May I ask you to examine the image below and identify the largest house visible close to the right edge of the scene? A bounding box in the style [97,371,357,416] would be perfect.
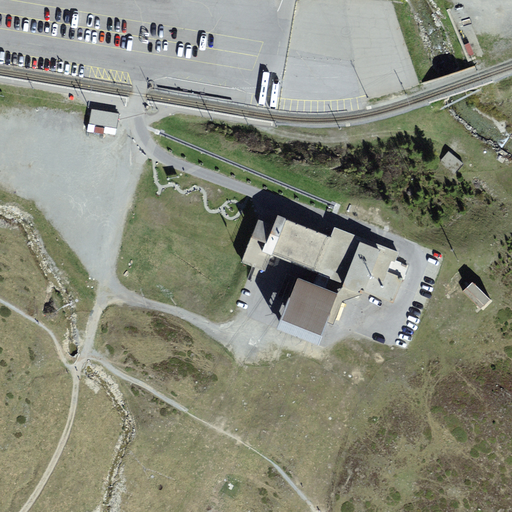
[462,282,492,314]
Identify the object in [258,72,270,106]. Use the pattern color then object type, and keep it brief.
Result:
white vehicle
